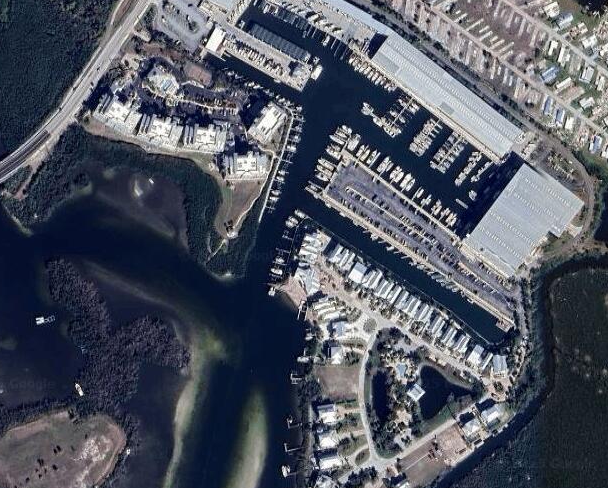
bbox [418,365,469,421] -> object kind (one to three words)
pond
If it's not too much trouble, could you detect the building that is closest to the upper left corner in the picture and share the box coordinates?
[93,100,141,139]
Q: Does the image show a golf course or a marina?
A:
marina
